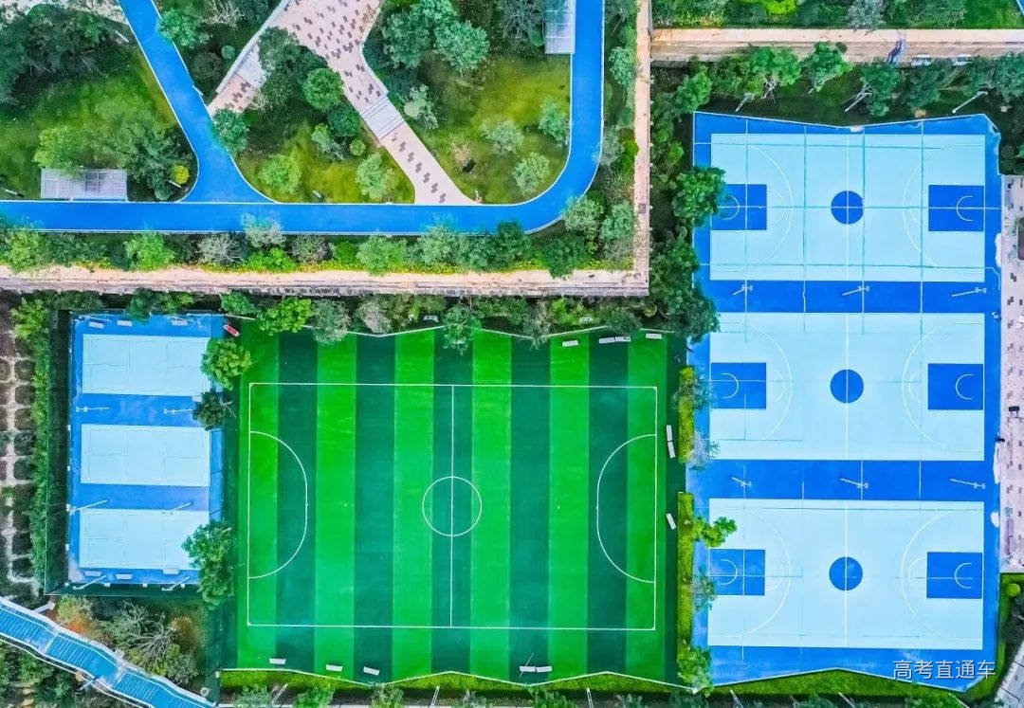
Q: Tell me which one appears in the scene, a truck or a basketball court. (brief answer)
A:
basketball court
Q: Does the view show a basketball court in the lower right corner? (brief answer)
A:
Yes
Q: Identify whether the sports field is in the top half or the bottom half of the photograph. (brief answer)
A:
bottom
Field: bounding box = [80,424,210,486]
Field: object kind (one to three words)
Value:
sports court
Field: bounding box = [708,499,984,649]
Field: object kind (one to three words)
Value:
basketball court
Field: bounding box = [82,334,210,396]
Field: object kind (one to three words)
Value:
sports court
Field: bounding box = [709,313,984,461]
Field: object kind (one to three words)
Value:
basketball court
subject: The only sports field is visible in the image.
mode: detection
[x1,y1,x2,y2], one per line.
[221,318,692,688]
